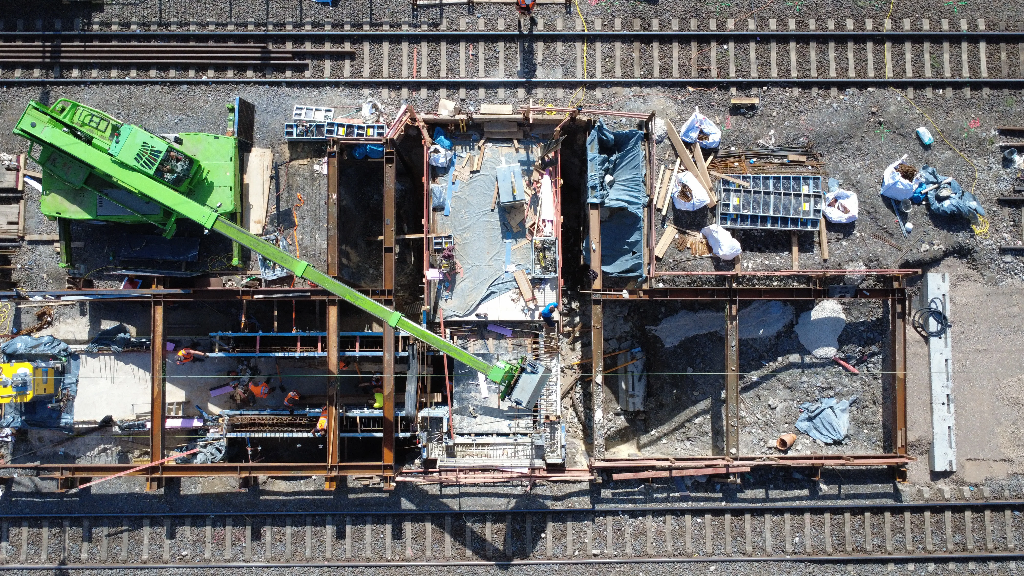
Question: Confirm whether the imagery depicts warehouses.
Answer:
No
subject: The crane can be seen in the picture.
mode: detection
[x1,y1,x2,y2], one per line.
[11,97,552,410]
